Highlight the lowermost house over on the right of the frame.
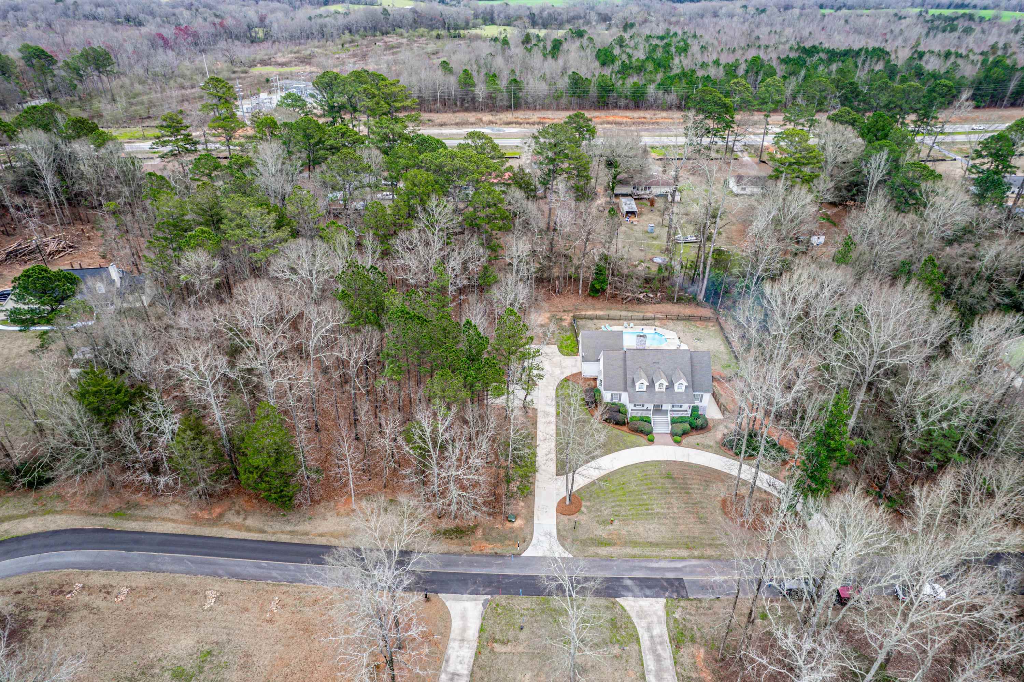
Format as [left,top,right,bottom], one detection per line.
[578,330,713,433]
